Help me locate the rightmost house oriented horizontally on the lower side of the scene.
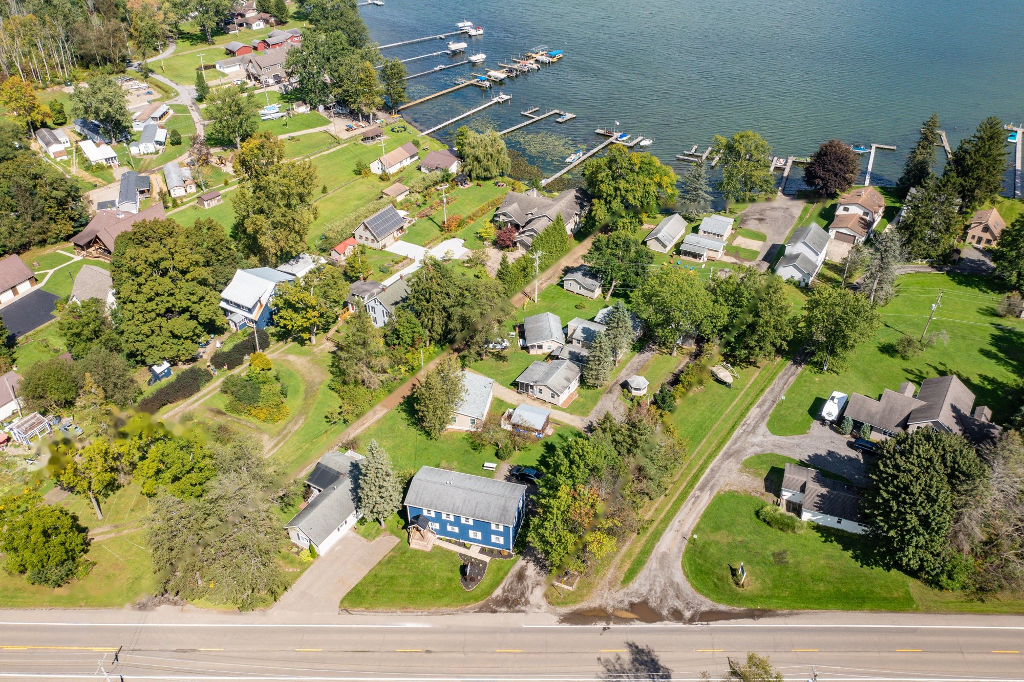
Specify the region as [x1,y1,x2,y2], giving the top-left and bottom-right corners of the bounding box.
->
[843,375,1005,456]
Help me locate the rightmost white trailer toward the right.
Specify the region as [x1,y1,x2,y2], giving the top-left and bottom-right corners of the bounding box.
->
[819,387,849,430]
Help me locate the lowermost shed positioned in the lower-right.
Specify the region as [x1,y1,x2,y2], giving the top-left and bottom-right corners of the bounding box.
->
[780,462,871,536]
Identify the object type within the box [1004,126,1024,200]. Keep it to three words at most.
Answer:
pier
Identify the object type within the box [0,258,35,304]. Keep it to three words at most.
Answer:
building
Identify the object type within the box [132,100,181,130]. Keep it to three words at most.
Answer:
house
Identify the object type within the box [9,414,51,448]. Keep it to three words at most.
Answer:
greenhouse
